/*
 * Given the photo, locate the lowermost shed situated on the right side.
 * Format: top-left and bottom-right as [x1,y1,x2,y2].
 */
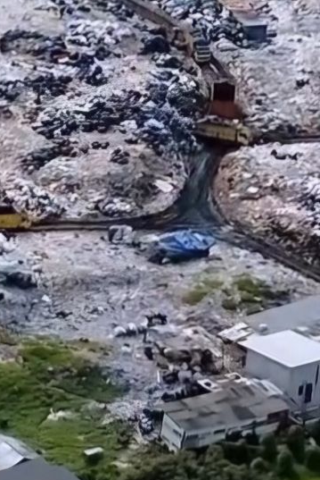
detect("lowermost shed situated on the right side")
[159,375,290,455]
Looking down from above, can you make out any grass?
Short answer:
Yes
